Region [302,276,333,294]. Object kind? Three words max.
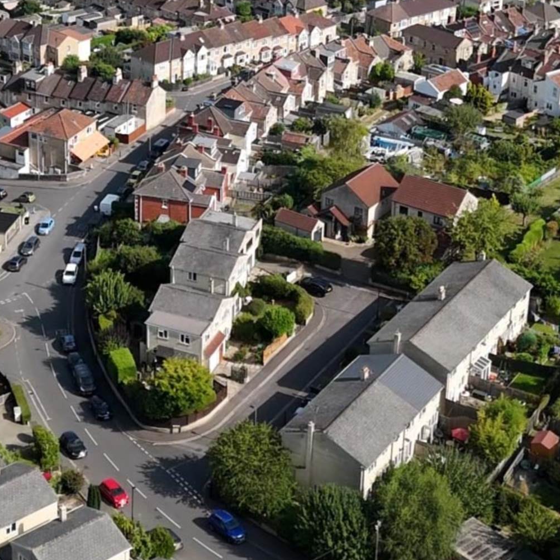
car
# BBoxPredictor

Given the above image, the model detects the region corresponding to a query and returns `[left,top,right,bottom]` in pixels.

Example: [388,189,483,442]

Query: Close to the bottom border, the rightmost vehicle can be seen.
[209,505,245,540]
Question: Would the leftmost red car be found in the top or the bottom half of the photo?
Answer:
bottom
